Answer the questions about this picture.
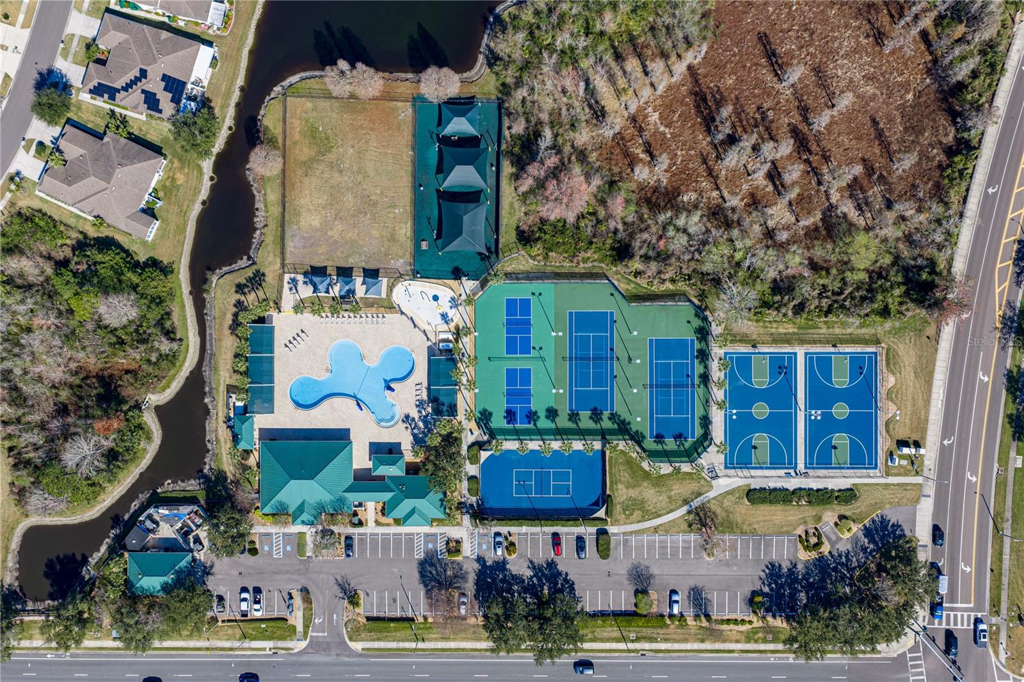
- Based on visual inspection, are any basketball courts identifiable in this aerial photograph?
Yes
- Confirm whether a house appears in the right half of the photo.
No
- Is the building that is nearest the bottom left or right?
left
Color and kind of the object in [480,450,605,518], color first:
blue sports court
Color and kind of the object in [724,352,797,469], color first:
blue basketball court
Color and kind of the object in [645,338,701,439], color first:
blue tennis court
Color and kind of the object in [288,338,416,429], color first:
blue swimming pool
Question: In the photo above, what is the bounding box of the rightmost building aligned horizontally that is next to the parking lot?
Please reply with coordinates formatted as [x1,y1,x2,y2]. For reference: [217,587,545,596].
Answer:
[260,441,445,526]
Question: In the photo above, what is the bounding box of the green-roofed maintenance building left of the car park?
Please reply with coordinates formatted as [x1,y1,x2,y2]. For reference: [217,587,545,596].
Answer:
[127,552,195,595]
